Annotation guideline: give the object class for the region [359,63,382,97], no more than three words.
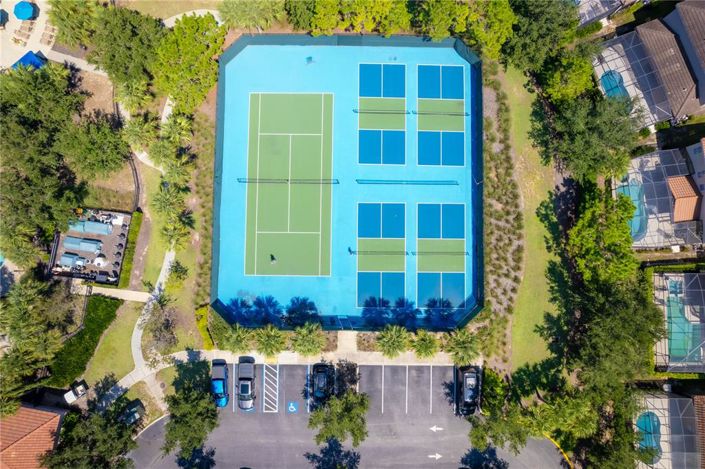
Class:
sports court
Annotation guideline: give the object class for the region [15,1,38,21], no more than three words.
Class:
umbrella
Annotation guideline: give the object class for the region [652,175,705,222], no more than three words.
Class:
house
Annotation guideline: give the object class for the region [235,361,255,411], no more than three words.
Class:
vehicle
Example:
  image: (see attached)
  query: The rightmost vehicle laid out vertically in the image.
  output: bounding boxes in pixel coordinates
[458,368,478,414]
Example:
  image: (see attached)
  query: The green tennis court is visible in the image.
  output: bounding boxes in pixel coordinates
[244,92,333,276]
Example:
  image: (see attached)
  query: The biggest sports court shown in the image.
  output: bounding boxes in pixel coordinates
[218,45,477,328]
